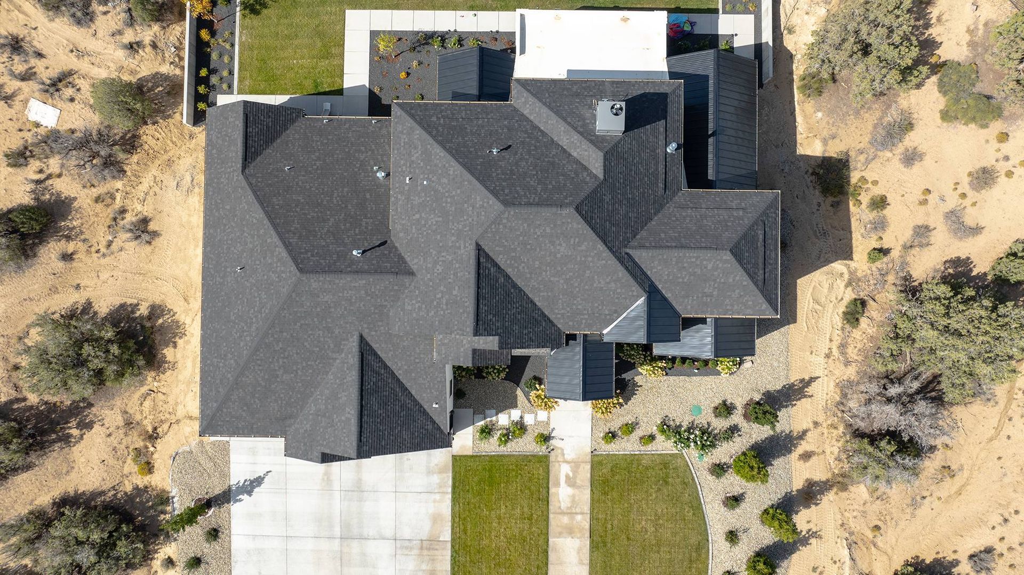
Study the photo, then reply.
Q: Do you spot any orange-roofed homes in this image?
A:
No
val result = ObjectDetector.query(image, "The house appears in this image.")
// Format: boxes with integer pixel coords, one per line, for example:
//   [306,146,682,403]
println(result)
[197,9,783,464]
